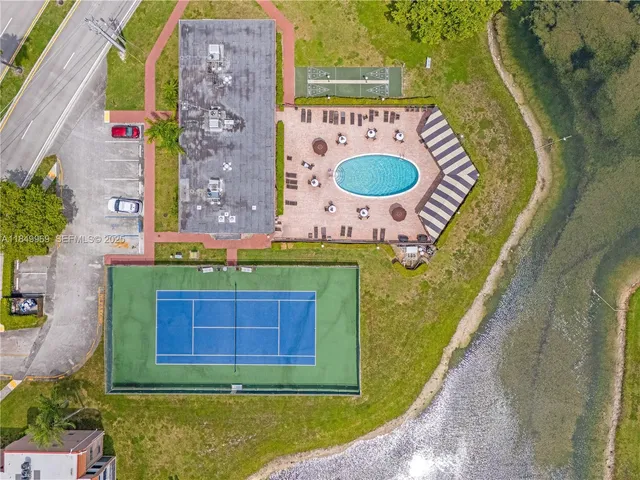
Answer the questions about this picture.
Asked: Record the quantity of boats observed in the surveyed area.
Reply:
0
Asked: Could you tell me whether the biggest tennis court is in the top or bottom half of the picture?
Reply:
bottom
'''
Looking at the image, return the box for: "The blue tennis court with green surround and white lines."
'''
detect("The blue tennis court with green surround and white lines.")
[111,265,361,392]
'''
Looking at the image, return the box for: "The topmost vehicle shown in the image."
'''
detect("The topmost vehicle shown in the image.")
[112,125,141,139]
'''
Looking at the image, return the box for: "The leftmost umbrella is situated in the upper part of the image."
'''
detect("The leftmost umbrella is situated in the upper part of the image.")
[312,140,328,155]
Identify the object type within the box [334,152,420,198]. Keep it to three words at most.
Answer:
swimming pool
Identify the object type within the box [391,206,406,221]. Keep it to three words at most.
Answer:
umbrella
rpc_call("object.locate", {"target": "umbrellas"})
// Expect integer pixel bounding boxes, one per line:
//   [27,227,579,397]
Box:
[312,140,328,155]
[391,206,406,221]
